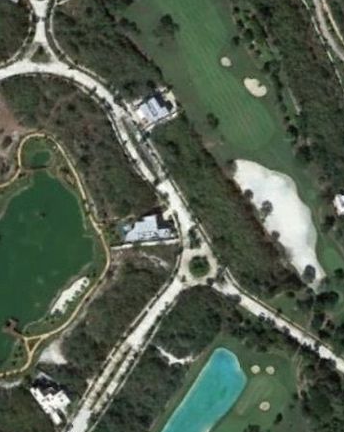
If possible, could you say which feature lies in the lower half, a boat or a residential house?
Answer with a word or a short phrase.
residential house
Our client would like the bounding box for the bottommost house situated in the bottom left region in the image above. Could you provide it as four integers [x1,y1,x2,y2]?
[31,374,71,425]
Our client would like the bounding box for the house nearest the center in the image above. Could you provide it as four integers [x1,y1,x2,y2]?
[122,214,172,243]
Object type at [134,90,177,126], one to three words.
house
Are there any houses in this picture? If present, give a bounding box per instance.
[134,90,177,126]
[31,374,71,425]
[122,214,172,243]
[333,193,344,216]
